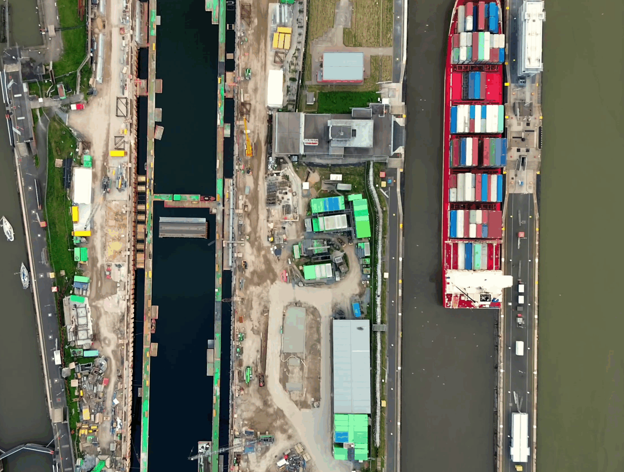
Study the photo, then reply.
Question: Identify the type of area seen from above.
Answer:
port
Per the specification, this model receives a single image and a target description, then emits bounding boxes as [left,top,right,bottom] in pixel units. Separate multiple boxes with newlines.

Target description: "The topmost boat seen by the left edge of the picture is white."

[0,216,13,242]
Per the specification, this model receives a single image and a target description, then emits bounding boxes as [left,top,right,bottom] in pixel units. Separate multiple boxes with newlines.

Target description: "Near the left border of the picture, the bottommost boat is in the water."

[12,264,29,290]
